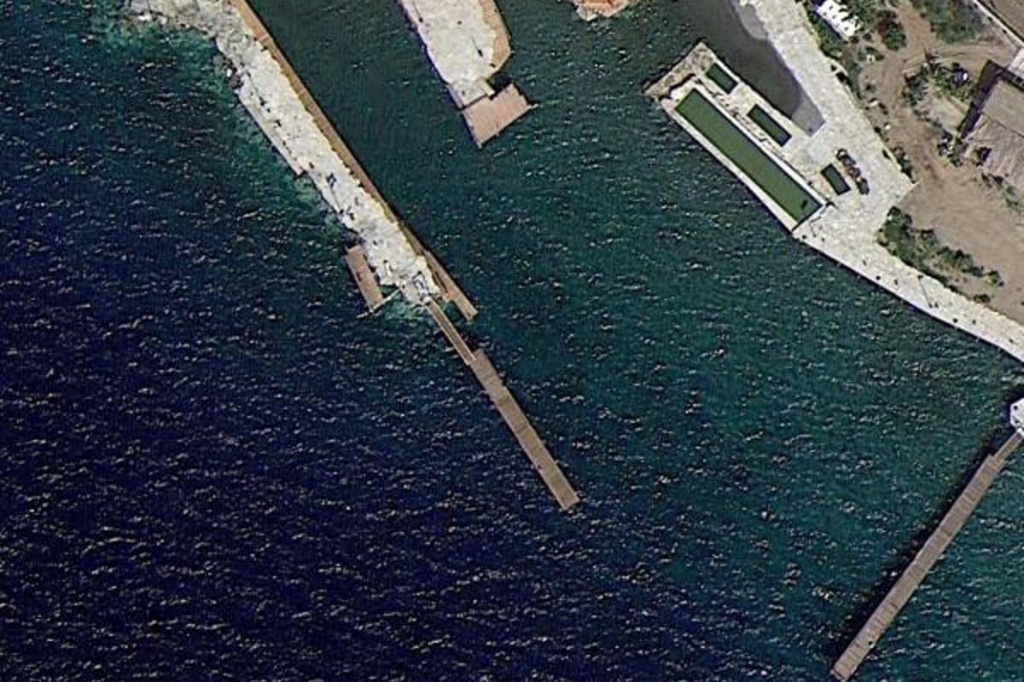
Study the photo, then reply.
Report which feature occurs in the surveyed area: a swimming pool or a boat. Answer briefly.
swimming pool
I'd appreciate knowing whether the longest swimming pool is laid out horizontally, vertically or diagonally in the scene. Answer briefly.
diagonally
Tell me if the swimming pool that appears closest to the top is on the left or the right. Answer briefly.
right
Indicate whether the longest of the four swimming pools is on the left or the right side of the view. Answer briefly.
right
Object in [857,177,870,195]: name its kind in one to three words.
vehicle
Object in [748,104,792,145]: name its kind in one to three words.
swimming pool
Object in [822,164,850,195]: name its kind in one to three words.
swimming pool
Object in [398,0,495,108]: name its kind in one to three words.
pier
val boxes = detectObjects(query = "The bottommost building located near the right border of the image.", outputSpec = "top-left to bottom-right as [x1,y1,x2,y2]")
[966,79,1024,183]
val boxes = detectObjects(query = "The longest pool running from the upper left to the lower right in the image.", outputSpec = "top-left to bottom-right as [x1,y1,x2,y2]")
[669,80,828,228]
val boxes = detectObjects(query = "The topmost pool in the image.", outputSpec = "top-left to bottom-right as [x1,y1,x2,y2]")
[708,64,738,92]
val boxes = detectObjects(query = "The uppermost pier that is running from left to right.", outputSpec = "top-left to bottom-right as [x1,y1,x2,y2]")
[573,0,634,20]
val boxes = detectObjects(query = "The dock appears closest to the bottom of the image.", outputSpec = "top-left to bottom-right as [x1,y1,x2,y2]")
[831,456,1004,682]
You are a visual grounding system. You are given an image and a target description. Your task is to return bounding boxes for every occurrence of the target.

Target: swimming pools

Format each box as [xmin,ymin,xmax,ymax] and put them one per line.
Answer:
[708,64,738,92]
[748,104,792,145]
[822,164,850,195]
[669,80,828,228]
